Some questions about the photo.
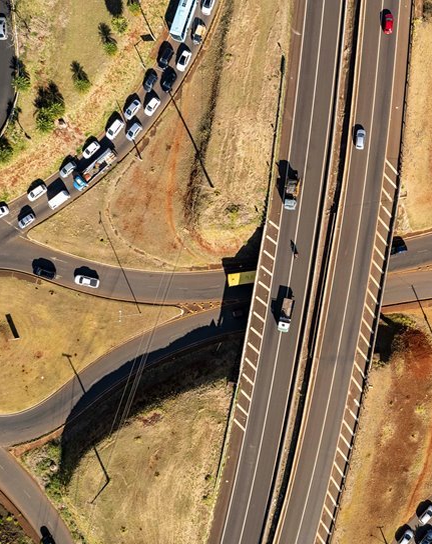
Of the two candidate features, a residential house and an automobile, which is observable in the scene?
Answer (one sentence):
There is an automobile in the scene.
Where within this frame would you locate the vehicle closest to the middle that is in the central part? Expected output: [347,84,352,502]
[224,272,258,290]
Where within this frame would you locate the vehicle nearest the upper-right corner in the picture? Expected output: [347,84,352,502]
[382,13,394,34]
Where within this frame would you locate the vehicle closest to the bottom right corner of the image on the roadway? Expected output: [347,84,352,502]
[417,530,432,544]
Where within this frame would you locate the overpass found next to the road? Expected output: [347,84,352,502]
[235,198,397,396]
